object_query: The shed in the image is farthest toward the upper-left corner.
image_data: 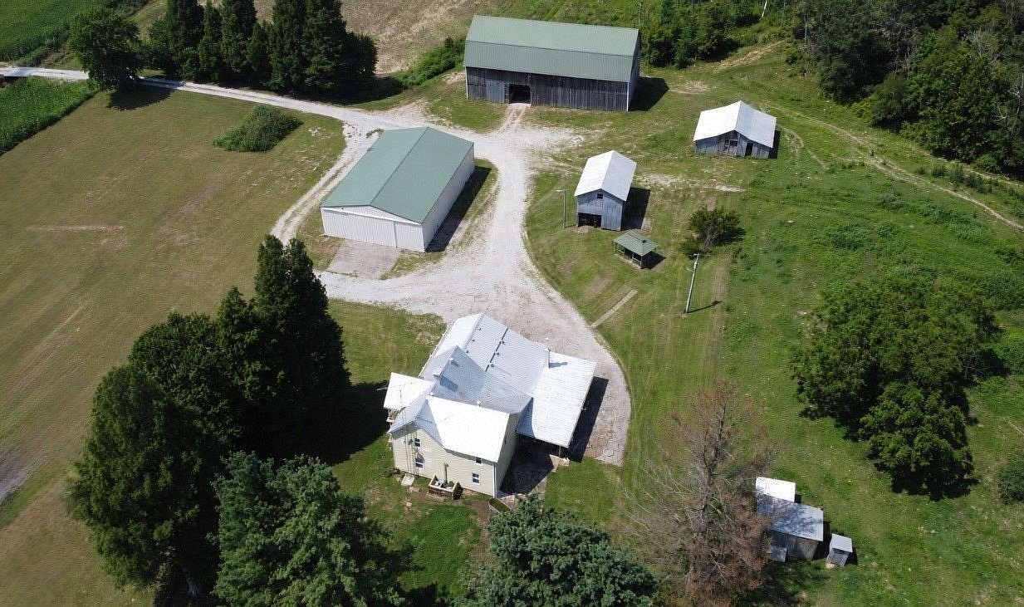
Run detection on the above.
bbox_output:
[318,125,476,251]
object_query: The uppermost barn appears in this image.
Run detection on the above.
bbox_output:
[462,14,644,113]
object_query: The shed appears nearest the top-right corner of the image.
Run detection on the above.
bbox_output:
[695,101,774,159]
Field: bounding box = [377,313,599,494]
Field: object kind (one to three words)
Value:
house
